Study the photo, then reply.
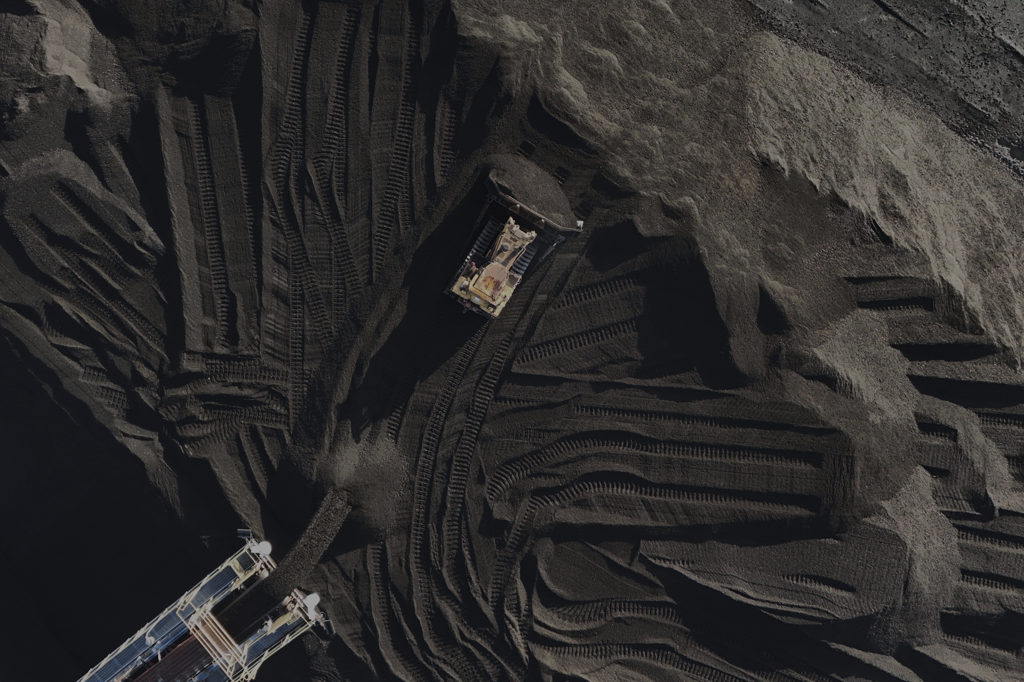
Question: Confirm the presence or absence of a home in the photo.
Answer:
No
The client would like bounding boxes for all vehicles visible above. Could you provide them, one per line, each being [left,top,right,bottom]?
[446,169,589,323]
